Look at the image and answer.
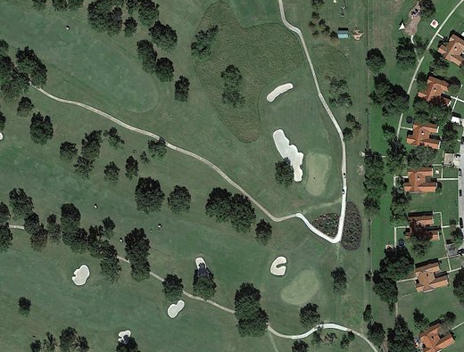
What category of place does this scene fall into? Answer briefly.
golf course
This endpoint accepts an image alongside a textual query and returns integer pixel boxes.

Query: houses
[418,322,457,352]
[417,72,453,105]
[404,166,438,192]
[438,34,464,67]
[415,260,450,294]
[404,215,440,240]
[407,122,441,148]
